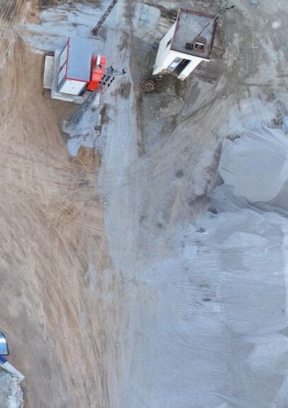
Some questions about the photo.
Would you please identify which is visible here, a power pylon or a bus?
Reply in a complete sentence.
There is a power pylon in the scene.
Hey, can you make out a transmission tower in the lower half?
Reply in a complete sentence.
No, looking in the lower half, there is no transmission tower.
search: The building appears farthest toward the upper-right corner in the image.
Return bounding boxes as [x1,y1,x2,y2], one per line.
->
[152,7,217,83]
